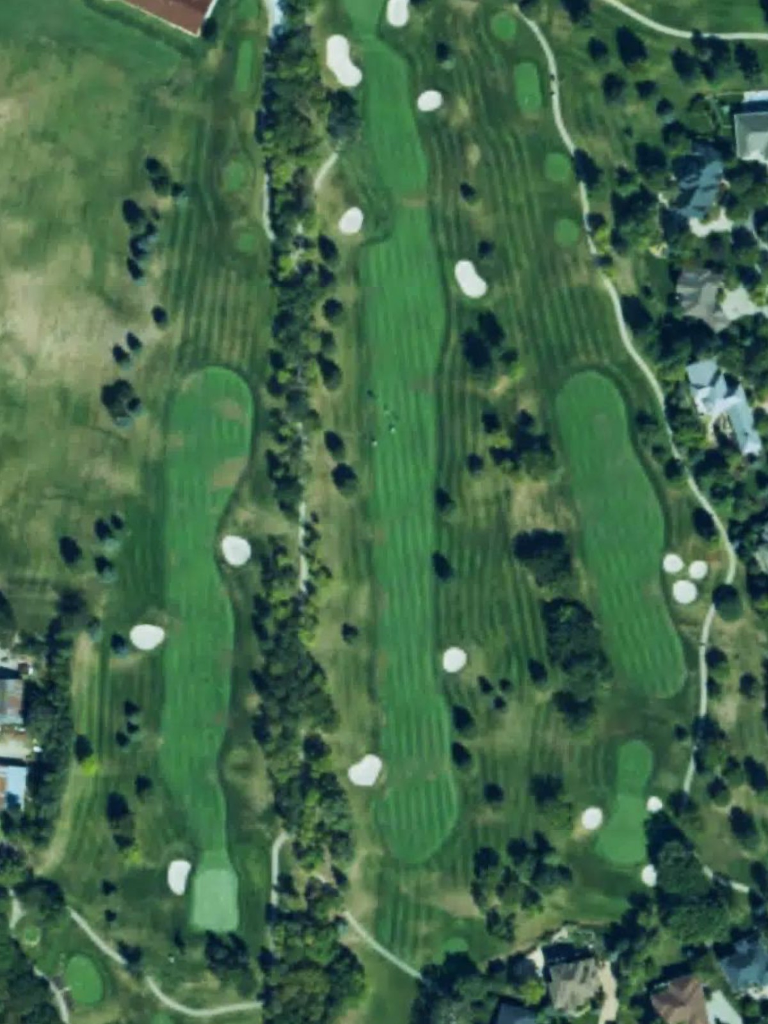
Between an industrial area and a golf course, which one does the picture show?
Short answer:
golf course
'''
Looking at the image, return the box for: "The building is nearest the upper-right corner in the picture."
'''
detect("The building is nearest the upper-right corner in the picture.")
[734,111,768,159]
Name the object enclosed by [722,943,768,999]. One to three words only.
house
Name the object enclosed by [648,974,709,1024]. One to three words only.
house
